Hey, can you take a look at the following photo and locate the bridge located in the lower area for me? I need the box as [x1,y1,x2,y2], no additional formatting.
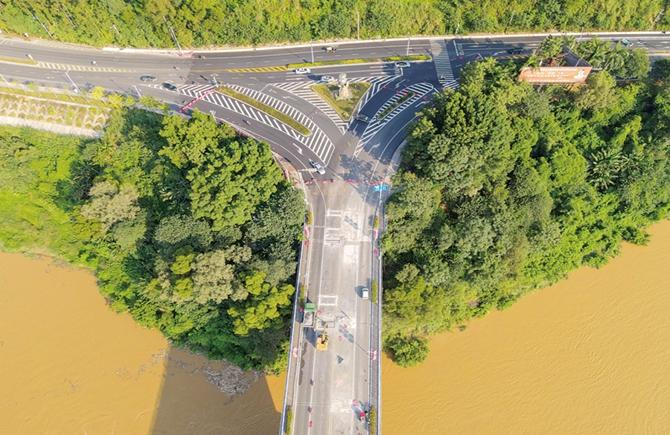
[281,189,383,435]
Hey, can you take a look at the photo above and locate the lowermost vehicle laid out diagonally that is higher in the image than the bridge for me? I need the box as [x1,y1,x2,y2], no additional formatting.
[309,158,326,174]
